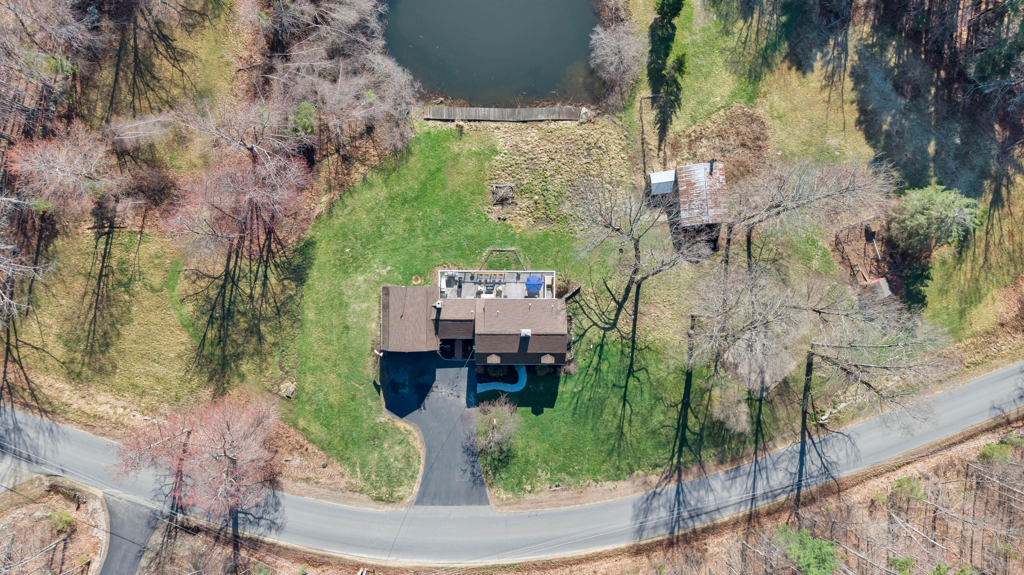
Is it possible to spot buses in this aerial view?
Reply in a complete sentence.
No, the scene contains no bus.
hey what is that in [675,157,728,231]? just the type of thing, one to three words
barn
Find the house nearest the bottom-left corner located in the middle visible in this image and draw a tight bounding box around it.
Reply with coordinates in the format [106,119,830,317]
[382,286,568,366]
